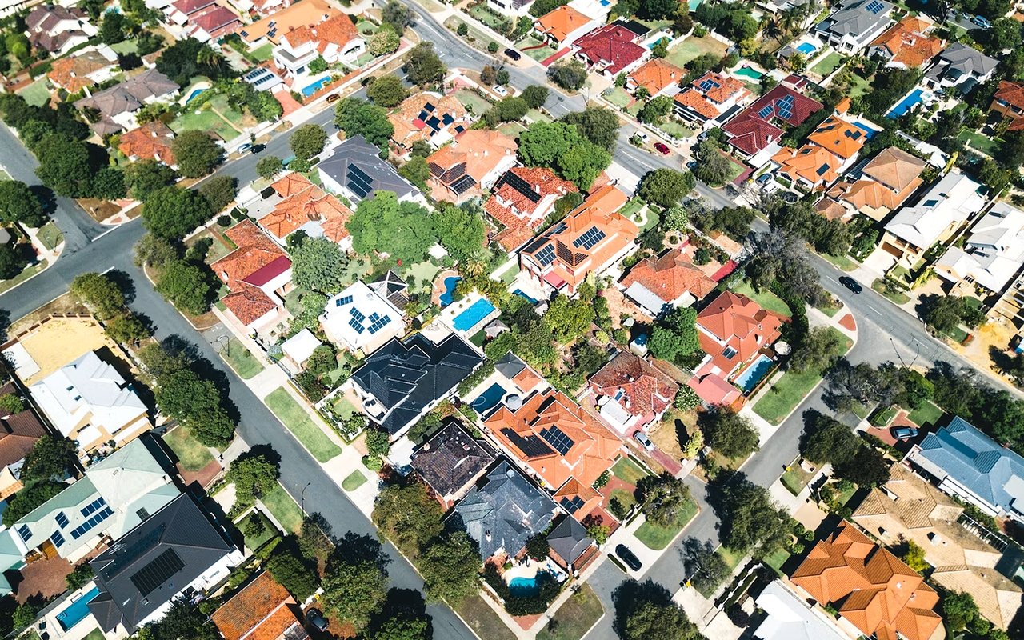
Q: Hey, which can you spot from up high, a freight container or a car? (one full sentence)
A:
There is a car in the scene.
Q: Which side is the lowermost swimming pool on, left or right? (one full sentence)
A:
The lowermost swimming pool sits on the left side.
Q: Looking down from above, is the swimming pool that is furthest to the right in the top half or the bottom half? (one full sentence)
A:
The swimming pool that is furthest to the right sits in the top half of the picture.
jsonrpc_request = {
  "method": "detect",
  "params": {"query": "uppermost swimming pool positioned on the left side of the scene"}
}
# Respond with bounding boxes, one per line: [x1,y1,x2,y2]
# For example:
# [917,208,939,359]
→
[100,3,128,16]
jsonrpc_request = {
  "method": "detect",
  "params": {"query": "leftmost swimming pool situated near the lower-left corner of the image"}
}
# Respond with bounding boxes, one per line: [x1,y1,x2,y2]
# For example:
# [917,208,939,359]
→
[50,582,105,637]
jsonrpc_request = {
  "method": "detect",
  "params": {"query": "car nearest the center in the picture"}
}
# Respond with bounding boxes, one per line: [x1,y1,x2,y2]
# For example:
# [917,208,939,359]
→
[631,428,659,455]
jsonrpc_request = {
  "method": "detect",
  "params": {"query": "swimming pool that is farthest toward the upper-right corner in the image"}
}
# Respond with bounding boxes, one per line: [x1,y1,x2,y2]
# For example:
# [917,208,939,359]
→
[882,86,931,121]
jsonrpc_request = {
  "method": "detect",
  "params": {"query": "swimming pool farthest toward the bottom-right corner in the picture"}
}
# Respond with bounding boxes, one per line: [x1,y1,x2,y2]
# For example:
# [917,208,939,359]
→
[732,350,776,393]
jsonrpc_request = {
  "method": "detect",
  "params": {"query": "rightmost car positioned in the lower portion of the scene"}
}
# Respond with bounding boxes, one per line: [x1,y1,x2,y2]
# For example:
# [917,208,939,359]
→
[890,425,923,441]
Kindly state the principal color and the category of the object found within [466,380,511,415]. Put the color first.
blue swimming pool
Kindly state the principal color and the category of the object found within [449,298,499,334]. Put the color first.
blue swimming pool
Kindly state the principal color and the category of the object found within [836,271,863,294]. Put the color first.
black car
